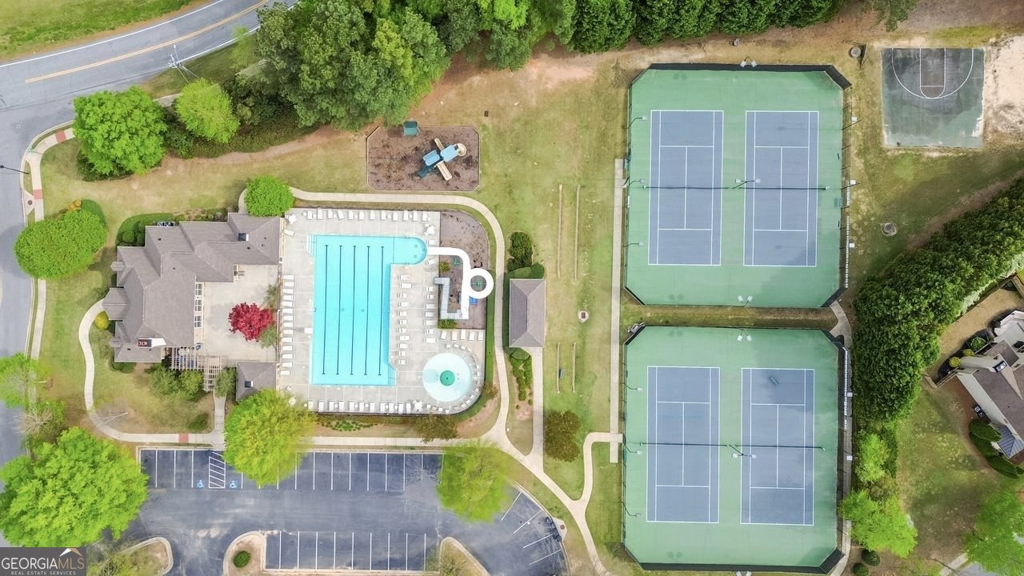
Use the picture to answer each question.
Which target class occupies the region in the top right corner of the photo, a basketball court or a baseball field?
basketball court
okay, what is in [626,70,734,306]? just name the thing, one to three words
tennis court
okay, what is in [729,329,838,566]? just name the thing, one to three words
tennis court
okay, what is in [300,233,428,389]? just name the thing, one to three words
swimming pool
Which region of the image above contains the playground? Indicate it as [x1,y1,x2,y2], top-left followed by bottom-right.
[417,137,467,182]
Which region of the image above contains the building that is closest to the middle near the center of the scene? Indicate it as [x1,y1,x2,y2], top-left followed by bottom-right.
[508,279,546,348]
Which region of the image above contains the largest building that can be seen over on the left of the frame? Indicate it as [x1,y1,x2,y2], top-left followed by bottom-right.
[102,212,286,362]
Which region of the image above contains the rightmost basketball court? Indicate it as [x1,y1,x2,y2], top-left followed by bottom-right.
[882,48,985,148]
